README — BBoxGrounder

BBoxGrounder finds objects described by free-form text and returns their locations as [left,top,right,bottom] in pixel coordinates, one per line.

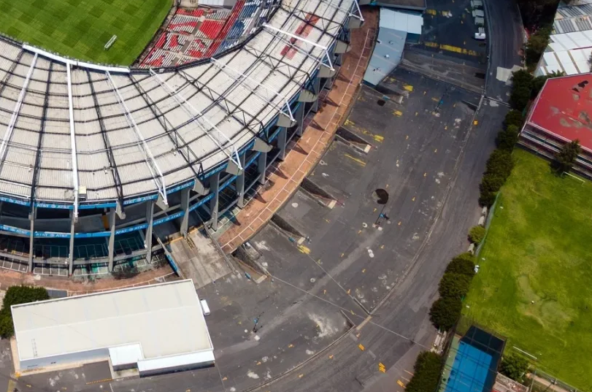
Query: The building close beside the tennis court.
[489,373,530,392]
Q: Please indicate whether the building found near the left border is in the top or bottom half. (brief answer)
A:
bottom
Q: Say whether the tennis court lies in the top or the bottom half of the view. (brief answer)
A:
bottom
